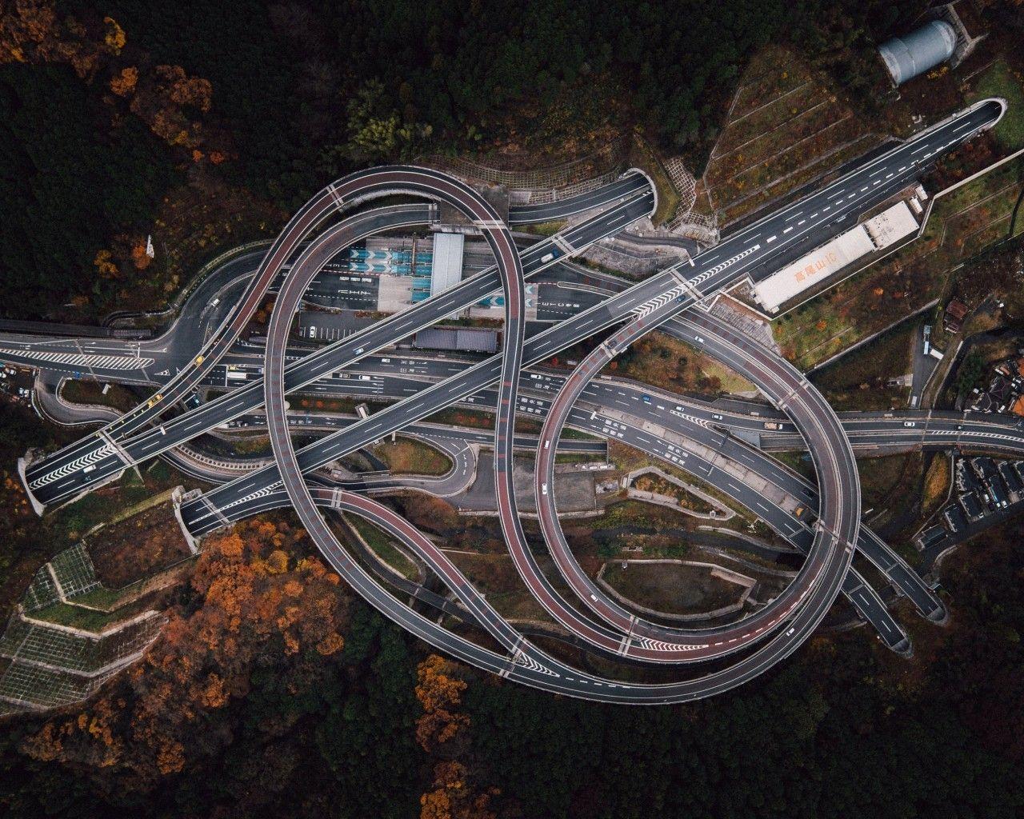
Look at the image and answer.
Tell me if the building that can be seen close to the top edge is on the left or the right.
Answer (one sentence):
The building that can be seen close to the top edge appears in the right half of the scene.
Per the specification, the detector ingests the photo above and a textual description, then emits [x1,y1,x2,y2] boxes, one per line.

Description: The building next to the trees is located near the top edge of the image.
[879,16,962,91]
